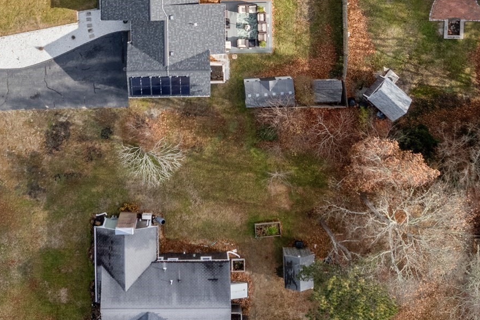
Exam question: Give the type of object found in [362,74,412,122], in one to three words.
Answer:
shed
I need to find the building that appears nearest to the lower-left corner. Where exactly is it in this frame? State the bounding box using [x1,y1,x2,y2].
[94,210,248,320]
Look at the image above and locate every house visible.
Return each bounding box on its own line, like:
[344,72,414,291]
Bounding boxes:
[94,210,248,320]
[98,0,225,98]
